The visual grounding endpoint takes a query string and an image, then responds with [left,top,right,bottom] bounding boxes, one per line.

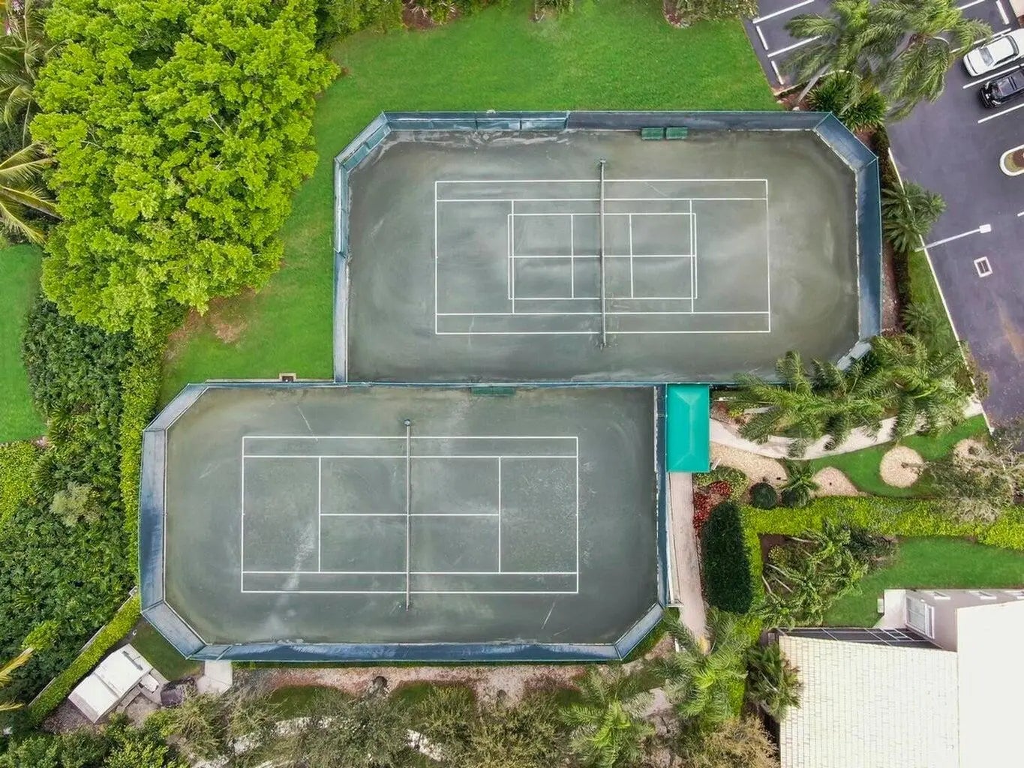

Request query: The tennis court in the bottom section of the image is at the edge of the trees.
[163,387,660,646]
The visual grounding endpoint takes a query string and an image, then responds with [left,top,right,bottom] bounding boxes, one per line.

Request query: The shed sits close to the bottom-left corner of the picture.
[69,643,155,723]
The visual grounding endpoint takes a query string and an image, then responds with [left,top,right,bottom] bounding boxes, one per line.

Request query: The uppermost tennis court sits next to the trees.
[347,129,861,385]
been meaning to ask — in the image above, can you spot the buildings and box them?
[768,587,1024,768]
[69,643,155,723]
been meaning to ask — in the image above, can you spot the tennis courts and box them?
[163,387,660,646]
[347,129,861,385]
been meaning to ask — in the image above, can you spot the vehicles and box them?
[980,67,1024,107]
[964,36,1024,80]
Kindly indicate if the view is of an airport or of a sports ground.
sports ground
